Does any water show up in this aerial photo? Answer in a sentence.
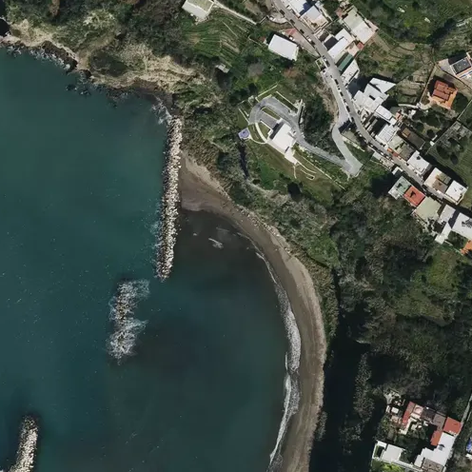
Yes, some water is visible.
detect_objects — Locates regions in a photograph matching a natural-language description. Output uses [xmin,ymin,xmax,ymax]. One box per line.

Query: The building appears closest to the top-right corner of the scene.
[439,56,472,77]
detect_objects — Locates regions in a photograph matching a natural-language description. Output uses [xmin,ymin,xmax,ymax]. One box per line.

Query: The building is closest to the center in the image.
[270,123,298,166]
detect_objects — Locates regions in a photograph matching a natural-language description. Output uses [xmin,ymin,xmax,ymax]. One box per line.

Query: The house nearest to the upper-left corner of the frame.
[181,0,214,20]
